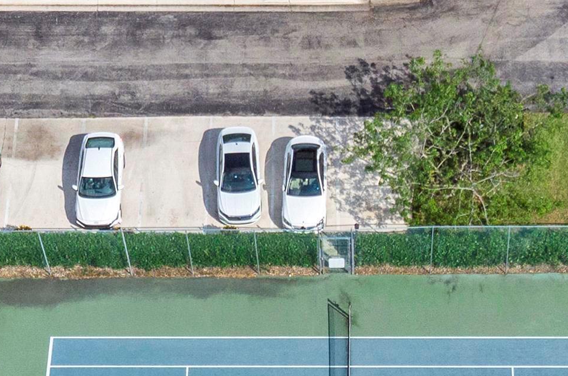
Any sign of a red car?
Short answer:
No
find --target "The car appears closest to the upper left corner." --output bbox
[71,131,127,229]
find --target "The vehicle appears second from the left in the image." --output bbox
[212,125,265,226]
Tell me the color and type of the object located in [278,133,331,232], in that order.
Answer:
white car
